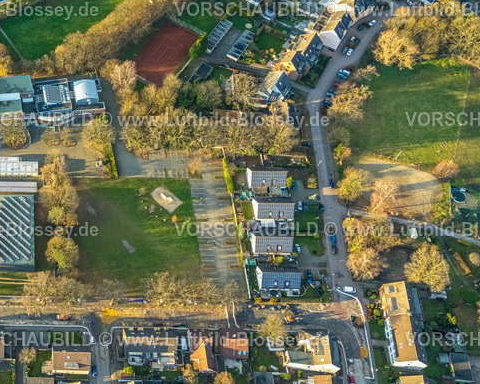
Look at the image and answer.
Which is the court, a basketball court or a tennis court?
tennis court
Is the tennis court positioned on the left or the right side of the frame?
left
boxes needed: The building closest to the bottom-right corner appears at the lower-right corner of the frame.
[448,353,472,383]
